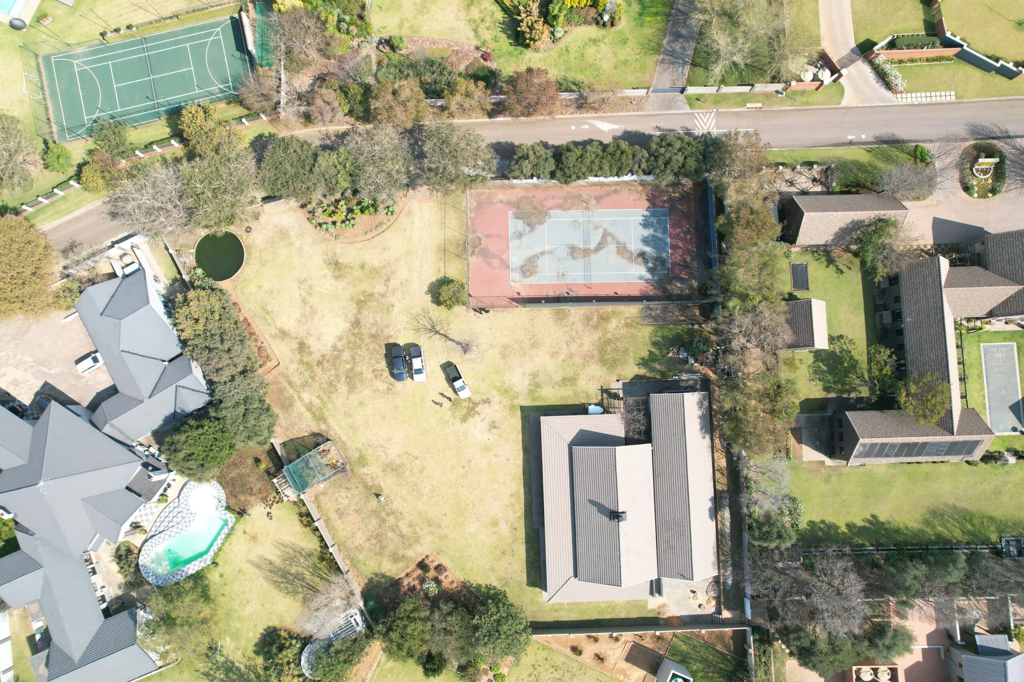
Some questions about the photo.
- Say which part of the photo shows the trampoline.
right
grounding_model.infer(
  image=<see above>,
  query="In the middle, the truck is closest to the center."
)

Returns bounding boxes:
[446,362,472,400]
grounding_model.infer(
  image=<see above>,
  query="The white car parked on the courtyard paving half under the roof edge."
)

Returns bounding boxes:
[76,353,101,373]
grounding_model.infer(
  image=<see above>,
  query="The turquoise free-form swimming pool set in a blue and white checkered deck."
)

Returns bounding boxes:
[135,479,228,577]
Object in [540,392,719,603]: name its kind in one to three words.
house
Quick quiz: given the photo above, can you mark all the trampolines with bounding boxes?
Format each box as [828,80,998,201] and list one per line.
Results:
[788,261,811,292]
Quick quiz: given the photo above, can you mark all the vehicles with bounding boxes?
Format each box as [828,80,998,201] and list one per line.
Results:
[410,345,428,383]
[76,353,101,373]
[391,345,409,383]
[9,402,34,420]
[32,396,49,410]
[446,362,472,400]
